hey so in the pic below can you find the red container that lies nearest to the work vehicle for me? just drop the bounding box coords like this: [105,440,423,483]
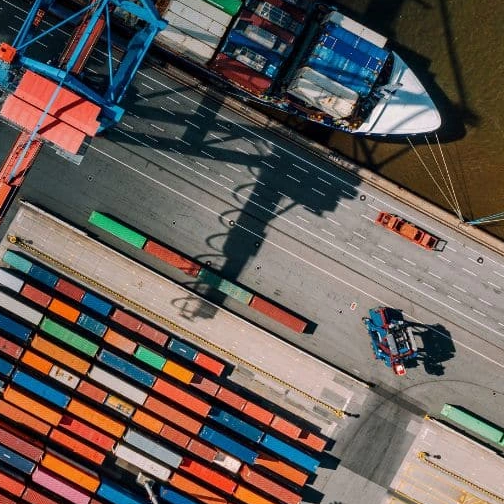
[249,295,308,334]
